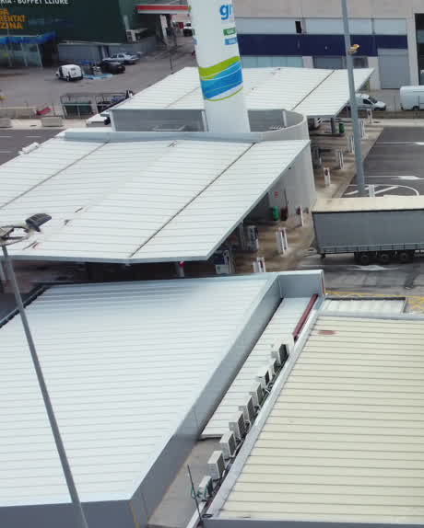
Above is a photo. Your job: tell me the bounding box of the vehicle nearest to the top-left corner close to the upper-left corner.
[52,62,90,79]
